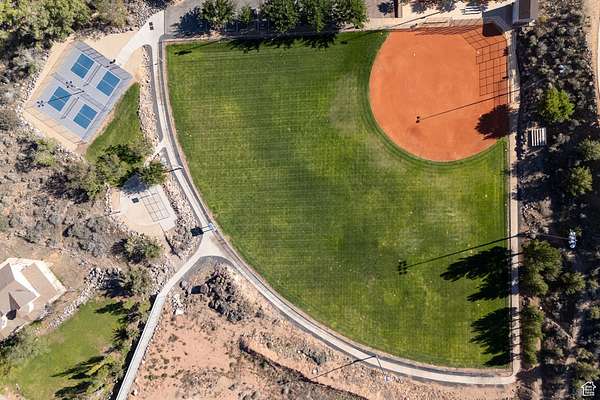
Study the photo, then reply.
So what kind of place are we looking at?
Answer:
sports ground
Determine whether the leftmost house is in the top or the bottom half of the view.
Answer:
bottom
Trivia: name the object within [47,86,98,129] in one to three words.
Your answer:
sports court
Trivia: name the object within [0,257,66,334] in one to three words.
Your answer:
house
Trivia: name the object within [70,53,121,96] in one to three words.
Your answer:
sports court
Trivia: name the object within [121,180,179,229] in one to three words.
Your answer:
basketball court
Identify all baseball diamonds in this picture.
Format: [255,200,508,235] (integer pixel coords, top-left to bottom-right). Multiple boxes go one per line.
[167,29,508,367]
